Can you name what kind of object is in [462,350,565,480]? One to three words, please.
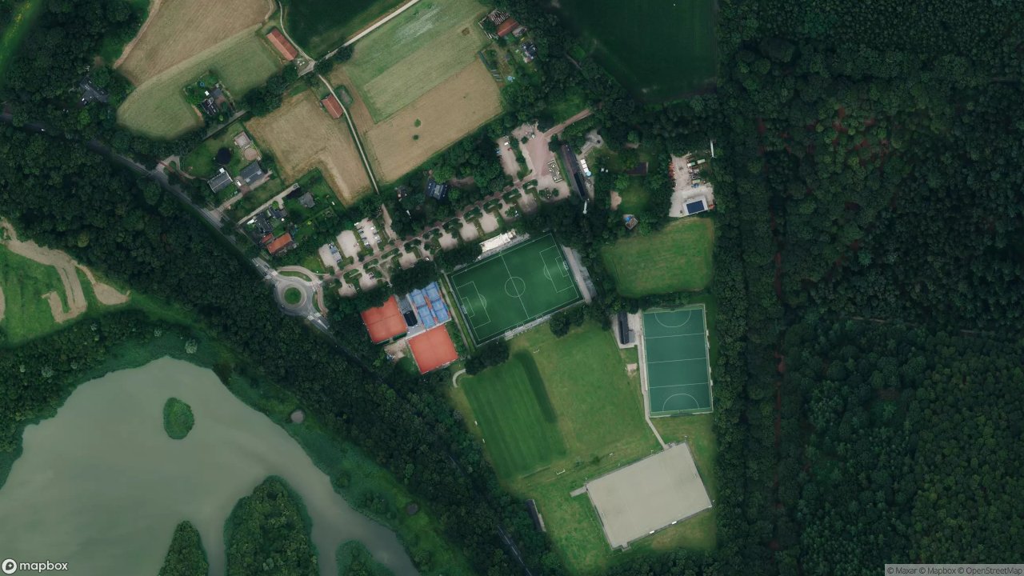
sports field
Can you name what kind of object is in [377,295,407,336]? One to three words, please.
tennis court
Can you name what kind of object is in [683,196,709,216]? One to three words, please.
building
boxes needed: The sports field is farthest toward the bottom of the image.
[584,441,712,548]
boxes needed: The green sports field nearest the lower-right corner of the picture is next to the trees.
[641,305,713,417]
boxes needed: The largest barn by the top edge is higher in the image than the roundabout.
[267,28,298,61]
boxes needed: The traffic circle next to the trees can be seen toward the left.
[253,253,336,338]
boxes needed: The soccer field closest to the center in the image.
[443,228,586,348]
